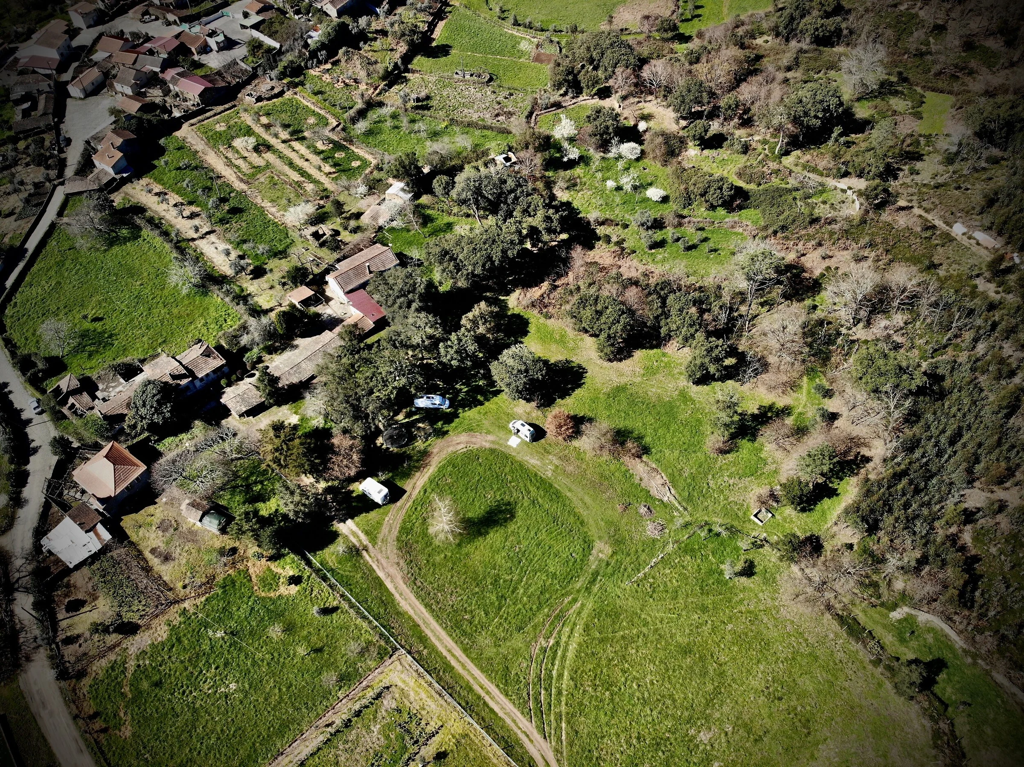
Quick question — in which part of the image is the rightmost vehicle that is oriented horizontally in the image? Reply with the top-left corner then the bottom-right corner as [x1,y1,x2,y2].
[414,395,448,411]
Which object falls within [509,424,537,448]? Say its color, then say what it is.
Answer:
white vehicle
